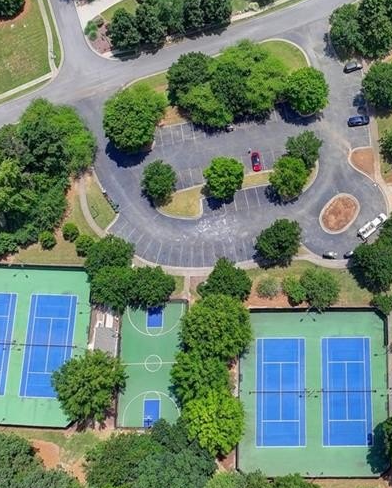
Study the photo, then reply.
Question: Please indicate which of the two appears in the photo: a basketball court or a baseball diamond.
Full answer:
Of the two, only a basketball court appears.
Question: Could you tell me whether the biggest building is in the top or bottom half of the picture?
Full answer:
Seen from above, the biggest building lies in the bottom half of the view.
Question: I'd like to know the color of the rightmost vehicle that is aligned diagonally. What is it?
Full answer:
In this view, the rightmost vehicle that is aligned diagonally is white.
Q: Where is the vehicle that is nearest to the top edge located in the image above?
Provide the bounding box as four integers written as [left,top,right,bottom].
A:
[342,61,363,73]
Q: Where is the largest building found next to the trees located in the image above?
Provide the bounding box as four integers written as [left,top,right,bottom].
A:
[94,327,118,356]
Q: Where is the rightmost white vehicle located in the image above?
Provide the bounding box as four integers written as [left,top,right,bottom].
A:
[357,214,386,240]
